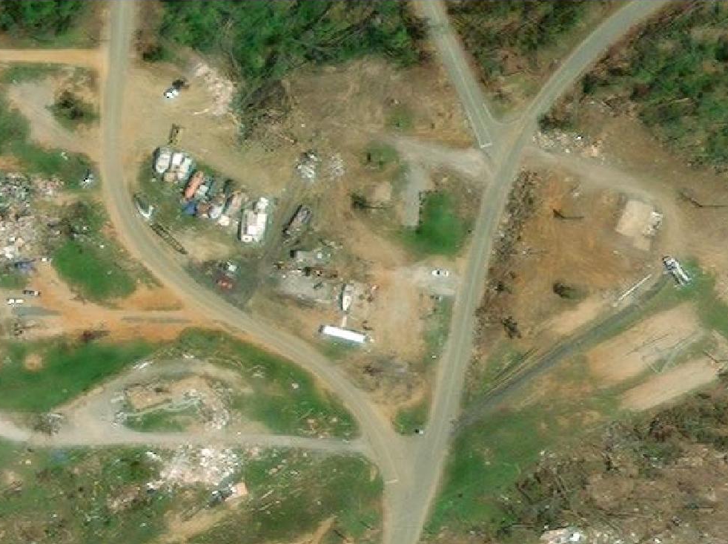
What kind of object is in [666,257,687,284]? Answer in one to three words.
truck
